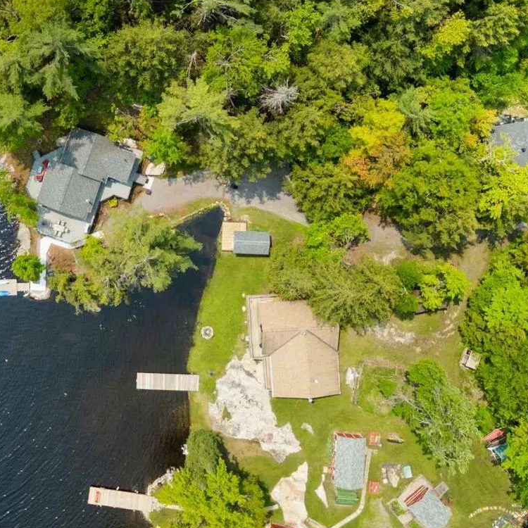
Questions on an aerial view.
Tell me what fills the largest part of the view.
trees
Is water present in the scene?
Yes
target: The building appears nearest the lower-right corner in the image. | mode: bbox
[397,475,452,528]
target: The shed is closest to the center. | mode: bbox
[221,222,271,255]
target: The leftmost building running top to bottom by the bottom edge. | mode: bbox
[330,431,366,507]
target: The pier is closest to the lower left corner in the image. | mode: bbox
[87,484,156,515]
